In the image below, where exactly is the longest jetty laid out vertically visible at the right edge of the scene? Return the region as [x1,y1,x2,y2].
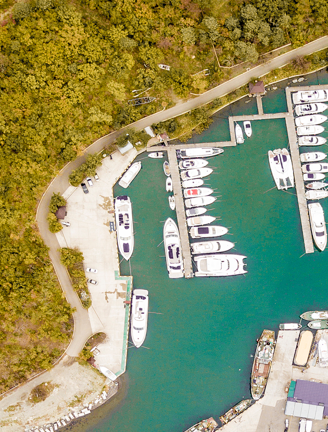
[284,117,315,254]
